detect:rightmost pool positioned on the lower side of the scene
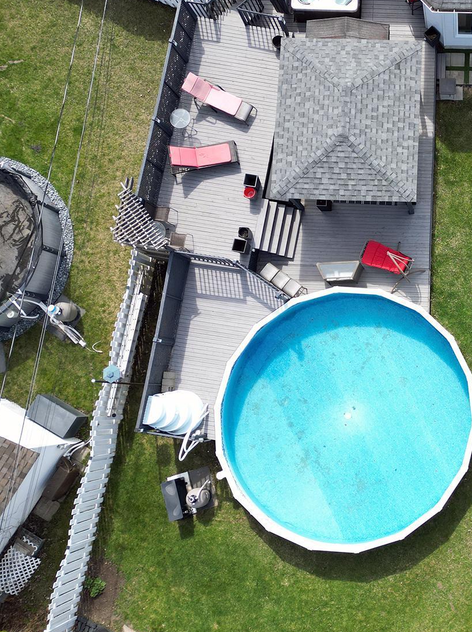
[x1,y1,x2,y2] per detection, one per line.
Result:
[214,286,472,554]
